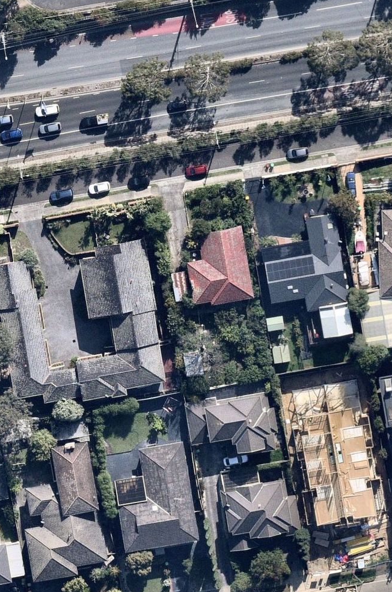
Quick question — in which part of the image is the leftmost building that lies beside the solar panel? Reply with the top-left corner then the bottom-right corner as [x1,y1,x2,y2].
[172,228,256,307]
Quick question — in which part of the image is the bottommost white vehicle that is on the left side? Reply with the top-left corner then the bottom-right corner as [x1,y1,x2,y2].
[88,183,110,196]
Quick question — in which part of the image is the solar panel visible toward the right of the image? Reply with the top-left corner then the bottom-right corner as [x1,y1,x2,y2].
[267,257,315,280]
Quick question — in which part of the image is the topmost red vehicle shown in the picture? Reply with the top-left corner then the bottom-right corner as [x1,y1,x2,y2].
[186,165,206,178]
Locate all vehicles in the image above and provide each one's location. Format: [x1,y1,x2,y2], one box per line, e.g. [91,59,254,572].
[345,170,355,196]
[0,116,12,127]
[186,165,206,178]
[127,177,150,188]
[286,147,309,160]
[166,101,188,114]
[88,183,110,196]
[36,106,59,118]
[51,190,72,203]
[224,457,247,468]
[39,123,61,135]
[1,129,23,142]
[80,115,108,128]
[358,261,368,285]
